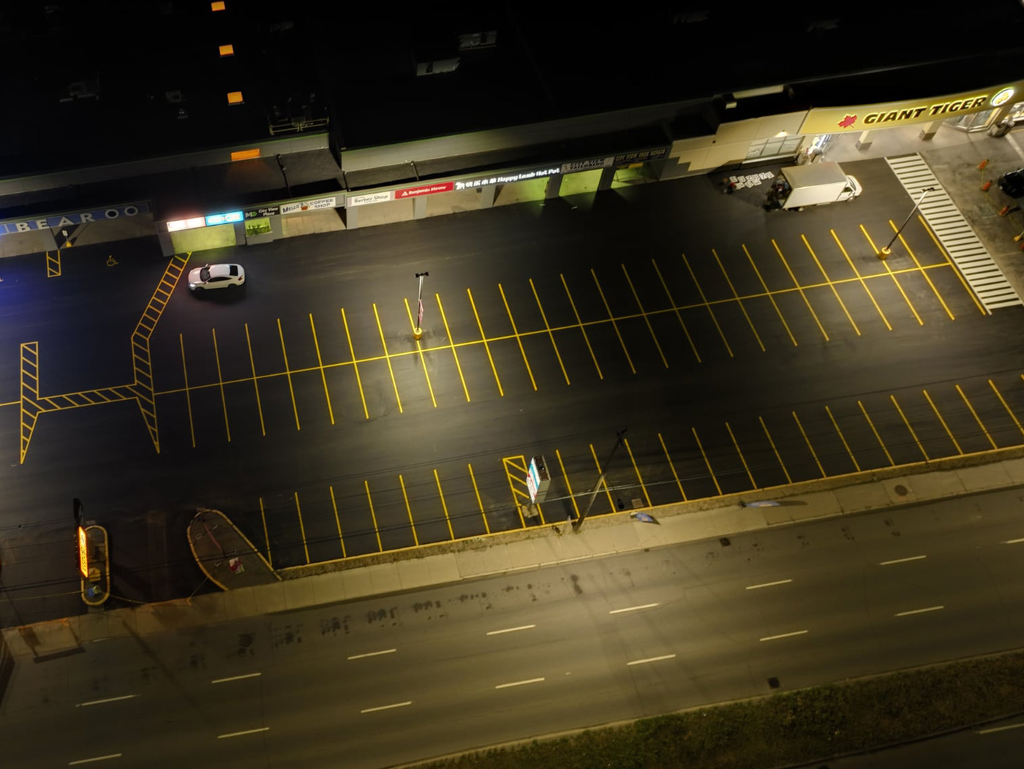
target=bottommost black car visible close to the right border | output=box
[999,163,1024,194]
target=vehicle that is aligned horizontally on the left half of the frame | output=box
[187,264,244,293]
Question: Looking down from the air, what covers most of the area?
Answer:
paved ground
